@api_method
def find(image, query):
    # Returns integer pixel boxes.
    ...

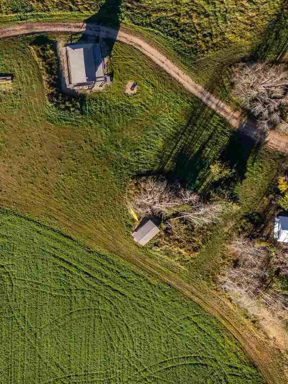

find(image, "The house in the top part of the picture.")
[58,41,105,92]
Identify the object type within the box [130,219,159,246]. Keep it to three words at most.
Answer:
shed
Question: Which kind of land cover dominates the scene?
grass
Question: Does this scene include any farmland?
Yes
